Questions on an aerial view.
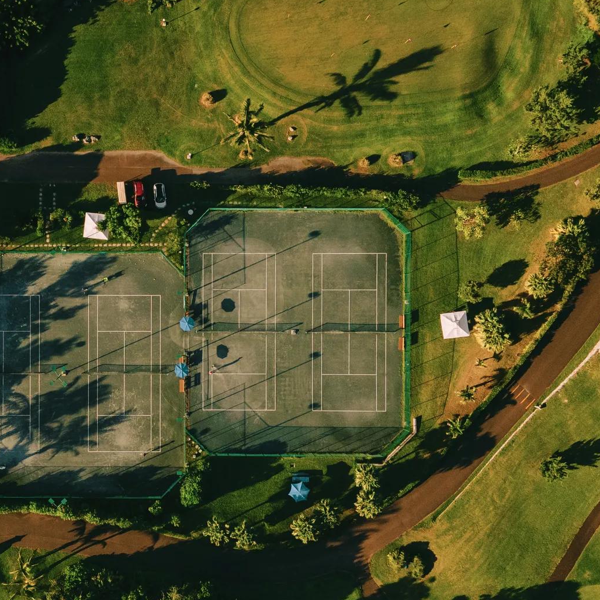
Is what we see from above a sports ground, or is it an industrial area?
sports ground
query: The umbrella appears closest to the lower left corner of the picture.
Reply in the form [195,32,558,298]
[175,363,188,378]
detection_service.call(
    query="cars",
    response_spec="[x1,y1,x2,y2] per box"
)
[132,180,146,208]
[154,183,168,208]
